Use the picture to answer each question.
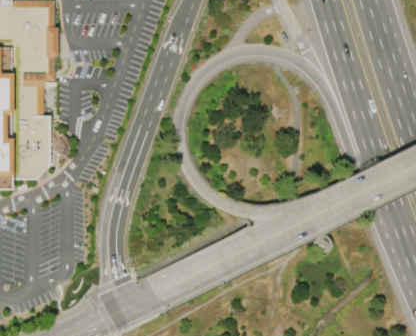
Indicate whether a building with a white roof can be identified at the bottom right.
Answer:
No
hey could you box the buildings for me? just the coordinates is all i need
[16,116,52,180]
[0,47,16,190]
[0,0,59,115]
